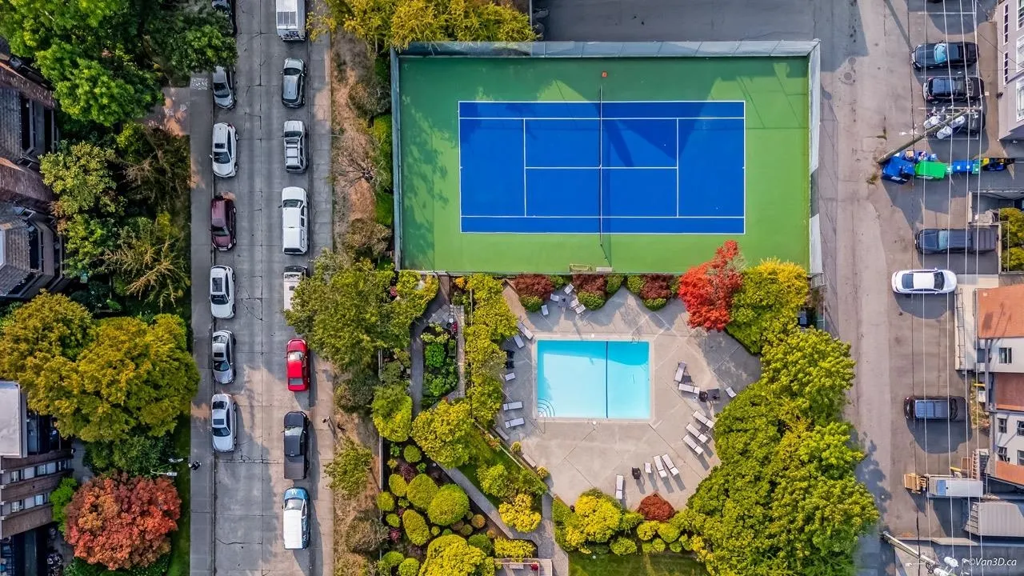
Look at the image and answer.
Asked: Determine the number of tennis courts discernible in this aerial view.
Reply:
1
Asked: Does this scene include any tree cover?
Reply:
Yes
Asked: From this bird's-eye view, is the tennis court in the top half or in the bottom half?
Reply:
top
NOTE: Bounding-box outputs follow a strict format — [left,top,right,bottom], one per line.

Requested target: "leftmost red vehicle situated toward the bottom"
[283,339,311,392]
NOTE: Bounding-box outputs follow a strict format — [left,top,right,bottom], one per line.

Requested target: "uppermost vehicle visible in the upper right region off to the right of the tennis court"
[911,41,979,71]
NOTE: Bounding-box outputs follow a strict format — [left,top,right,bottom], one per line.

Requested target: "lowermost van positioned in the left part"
[280,487,310,549]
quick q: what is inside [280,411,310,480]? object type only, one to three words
truck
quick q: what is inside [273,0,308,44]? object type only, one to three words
van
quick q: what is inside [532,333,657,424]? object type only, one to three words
swimming pool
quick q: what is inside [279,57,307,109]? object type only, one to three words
car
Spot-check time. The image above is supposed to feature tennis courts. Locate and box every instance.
[400,57,811,273]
